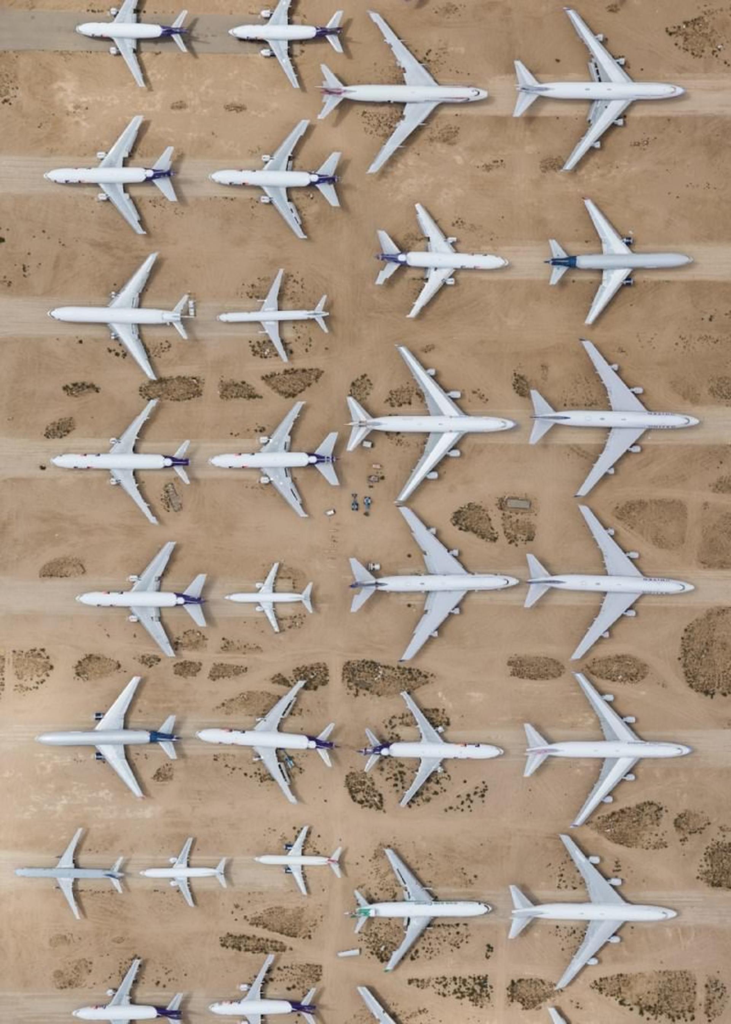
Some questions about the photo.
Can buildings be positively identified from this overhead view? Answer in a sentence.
No, there isn't any building down there.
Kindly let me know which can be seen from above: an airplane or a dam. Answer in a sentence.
This aerial view contains an airplane.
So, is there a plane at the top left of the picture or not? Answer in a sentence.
Yes, at the top left of the picture there is a plane.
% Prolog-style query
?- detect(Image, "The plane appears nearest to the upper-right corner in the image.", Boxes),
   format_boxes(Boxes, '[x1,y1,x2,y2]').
[516,10,685,169]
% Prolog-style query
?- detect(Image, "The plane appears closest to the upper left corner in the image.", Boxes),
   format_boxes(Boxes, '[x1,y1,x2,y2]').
[76,0,188,86]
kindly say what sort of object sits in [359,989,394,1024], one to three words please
airplane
